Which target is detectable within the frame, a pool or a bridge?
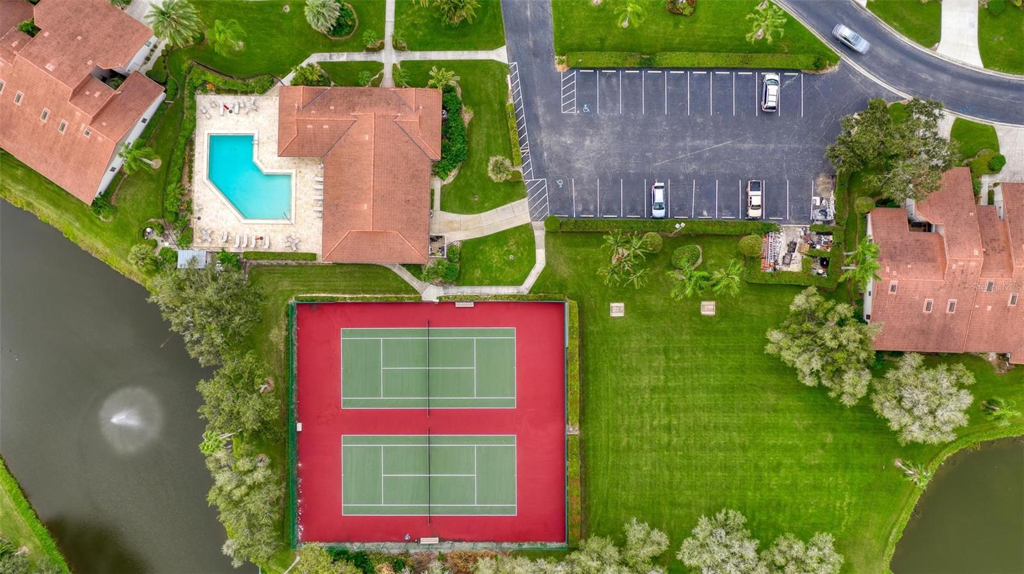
pool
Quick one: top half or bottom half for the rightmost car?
top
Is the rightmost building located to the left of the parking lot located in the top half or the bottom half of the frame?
top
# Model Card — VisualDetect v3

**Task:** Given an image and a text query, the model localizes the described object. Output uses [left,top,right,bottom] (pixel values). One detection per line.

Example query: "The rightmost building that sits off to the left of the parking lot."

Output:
[277,86,442,264]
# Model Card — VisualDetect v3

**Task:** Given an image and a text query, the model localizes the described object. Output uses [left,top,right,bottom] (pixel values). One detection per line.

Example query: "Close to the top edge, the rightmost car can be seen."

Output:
[833,24,870,52]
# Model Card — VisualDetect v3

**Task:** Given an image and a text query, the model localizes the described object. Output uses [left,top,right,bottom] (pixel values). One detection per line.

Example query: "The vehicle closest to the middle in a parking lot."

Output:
[651,182,666,218]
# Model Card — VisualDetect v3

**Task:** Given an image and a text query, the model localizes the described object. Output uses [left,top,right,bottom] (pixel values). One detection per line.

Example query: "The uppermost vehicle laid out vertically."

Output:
[761,74,780,112]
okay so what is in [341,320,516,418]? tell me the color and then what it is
green tennis court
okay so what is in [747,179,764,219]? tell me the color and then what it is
white vehicle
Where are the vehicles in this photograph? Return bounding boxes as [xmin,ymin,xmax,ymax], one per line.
[833,24,870,52]
[747,179,764,219]
[761,74,780,112]
[651,182,666,218]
